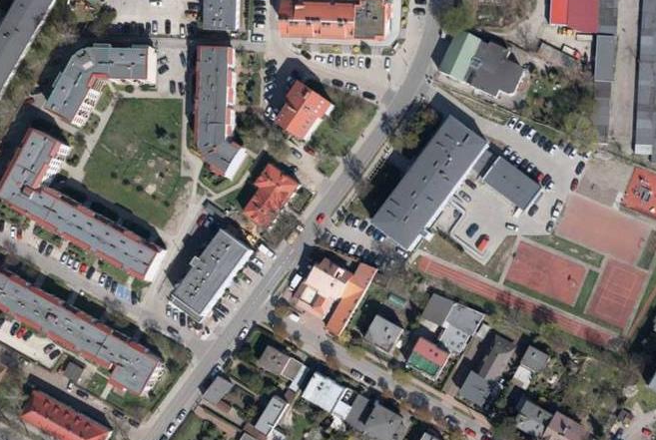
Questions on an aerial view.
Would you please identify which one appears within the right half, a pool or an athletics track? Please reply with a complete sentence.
You can see an athletics track within the right half.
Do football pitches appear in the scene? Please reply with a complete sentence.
Yes, there is a football pitch in the image.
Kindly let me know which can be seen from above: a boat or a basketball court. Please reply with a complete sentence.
Visible in the photo is a basketball court.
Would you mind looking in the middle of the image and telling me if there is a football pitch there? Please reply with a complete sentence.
No, there's no football pitch to be seen in the middle of the image.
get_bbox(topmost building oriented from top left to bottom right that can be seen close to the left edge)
[0,129,162,280]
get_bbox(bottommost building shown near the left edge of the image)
[21,390,113,440]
